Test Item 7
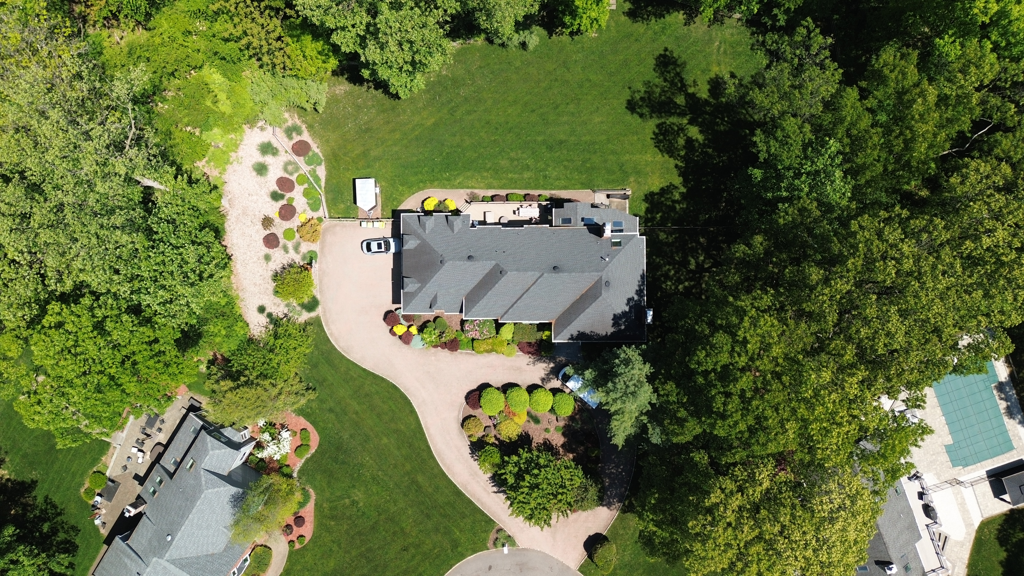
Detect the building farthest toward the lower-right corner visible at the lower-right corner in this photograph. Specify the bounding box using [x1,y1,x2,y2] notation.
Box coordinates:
[988,470,1024,507]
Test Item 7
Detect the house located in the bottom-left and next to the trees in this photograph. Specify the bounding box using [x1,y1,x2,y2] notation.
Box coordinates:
[94,410,262,576]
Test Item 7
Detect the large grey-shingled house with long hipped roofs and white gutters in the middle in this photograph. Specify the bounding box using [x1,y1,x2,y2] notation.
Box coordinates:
[401,202,653,347]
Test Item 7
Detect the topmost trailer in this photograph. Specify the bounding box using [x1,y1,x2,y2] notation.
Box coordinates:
[355,178,380,218]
